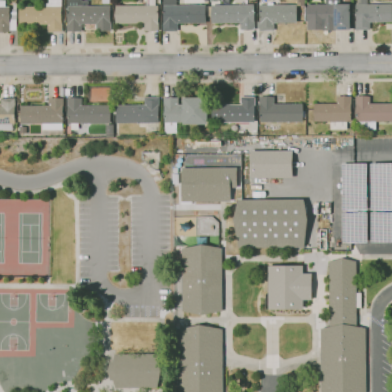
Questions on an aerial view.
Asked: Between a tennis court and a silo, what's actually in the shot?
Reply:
tennis court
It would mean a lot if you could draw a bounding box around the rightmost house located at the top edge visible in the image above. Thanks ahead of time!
[356,0,392,29]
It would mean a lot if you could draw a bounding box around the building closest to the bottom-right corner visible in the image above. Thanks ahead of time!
[322,327,366,392]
